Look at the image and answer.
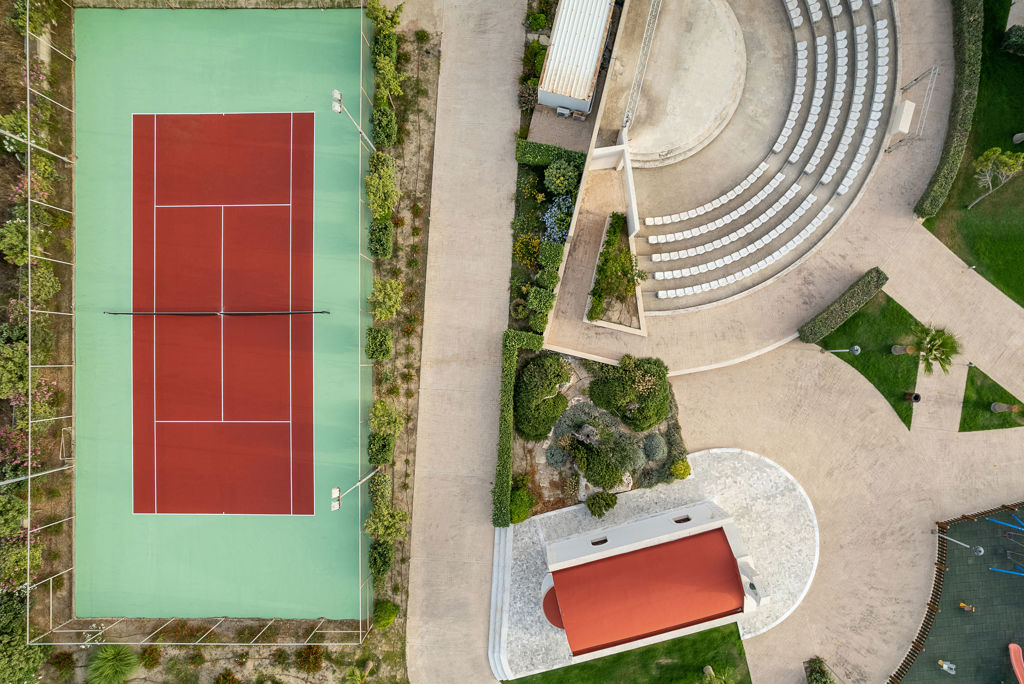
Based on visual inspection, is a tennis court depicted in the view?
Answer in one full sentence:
Yes, the picture does show a tennis court.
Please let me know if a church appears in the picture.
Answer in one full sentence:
Yes, this view includes a church.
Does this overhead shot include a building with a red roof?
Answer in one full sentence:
Yes, there's a building with a red roof here.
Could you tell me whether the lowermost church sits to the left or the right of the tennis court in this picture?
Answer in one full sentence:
Compared with the tennis court, the lowermost church is located further to the right.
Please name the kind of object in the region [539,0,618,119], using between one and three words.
building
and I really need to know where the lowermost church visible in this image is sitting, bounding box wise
[540,501,763,662]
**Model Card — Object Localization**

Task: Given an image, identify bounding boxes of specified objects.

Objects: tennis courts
[71,9,374,621]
